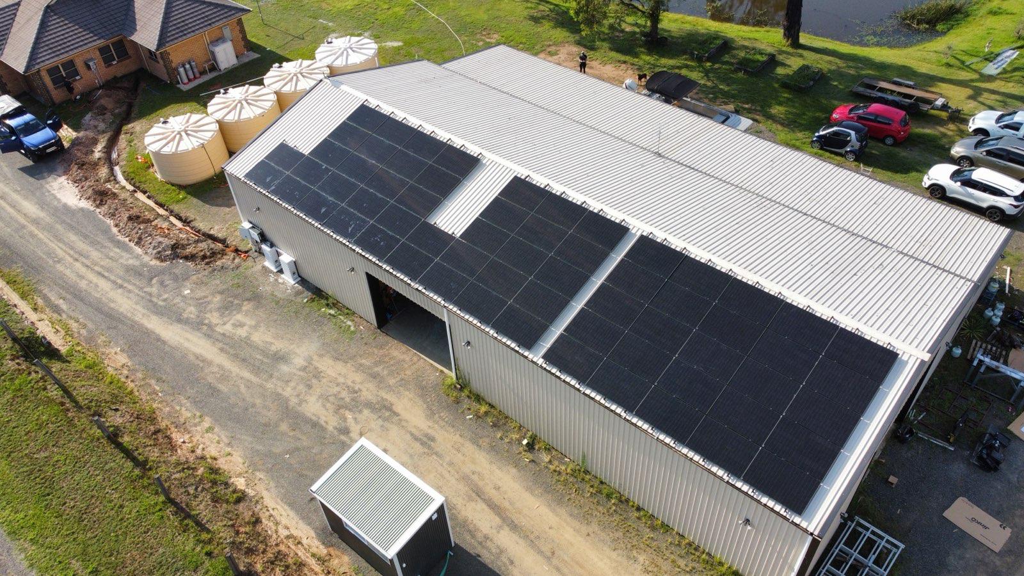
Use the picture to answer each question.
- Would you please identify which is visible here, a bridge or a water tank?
water tank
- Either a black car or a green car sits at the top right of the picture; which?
black car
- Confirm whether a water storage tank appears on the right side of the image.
No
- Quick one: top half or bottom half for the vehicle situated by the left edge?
top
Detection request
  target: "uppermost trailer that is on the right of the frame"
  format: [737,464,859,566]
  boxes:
[851,71,960,116]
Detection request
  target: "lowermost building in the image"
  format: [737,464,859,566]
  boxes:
[311,439,452,576]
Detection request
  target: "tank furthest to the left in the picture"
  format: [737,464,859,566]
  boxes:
[143,110,233,188]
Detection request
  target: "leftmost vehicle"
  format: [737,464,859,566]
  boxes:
[0,90,71,162]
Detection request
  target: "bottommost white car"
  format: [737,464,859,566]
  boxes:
[923,163,1024,220]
